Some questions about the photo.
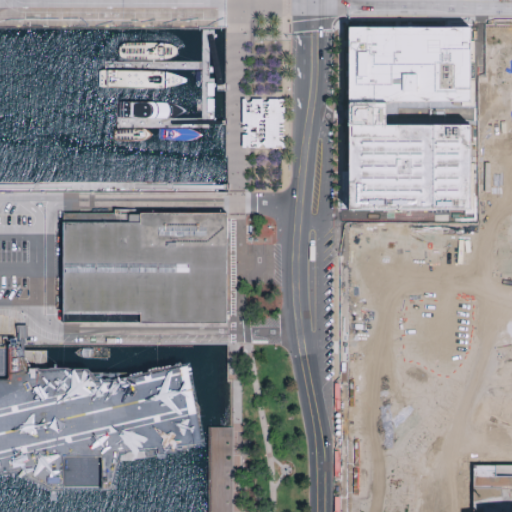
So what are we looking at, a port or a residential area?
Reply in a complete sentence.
It's a port.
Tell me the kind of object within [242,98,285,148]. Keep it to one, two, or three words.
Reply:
building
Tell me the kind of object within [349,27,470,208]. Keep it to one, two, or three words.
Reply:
building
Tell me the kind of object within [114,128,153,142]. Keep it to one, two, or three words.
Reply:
boat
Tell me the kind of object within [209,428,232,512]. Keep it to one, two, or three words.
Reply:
pier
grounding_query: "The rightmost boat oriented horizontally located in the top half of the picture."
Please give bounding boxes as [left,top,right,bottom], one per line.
[160,128,202,142]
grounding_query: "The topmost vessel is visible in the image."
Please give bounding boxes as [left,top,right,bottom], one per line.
[119,42,178,60]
